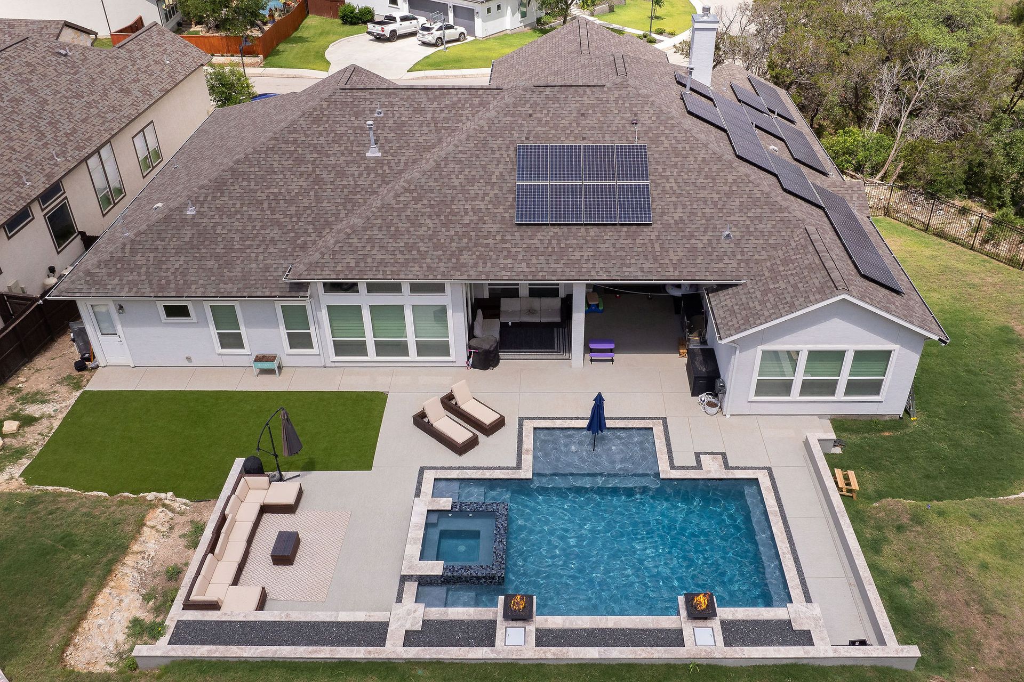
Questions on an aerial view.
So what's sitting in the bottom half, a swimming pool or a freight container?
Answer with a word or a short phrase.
swimming pool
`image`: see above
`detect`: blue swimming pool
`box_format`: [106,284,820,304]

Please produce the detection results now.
[401,420,806,629]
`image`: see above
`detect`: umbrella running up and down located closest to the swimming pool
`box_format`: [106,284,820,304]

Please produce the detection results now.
[586,390,607,452]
